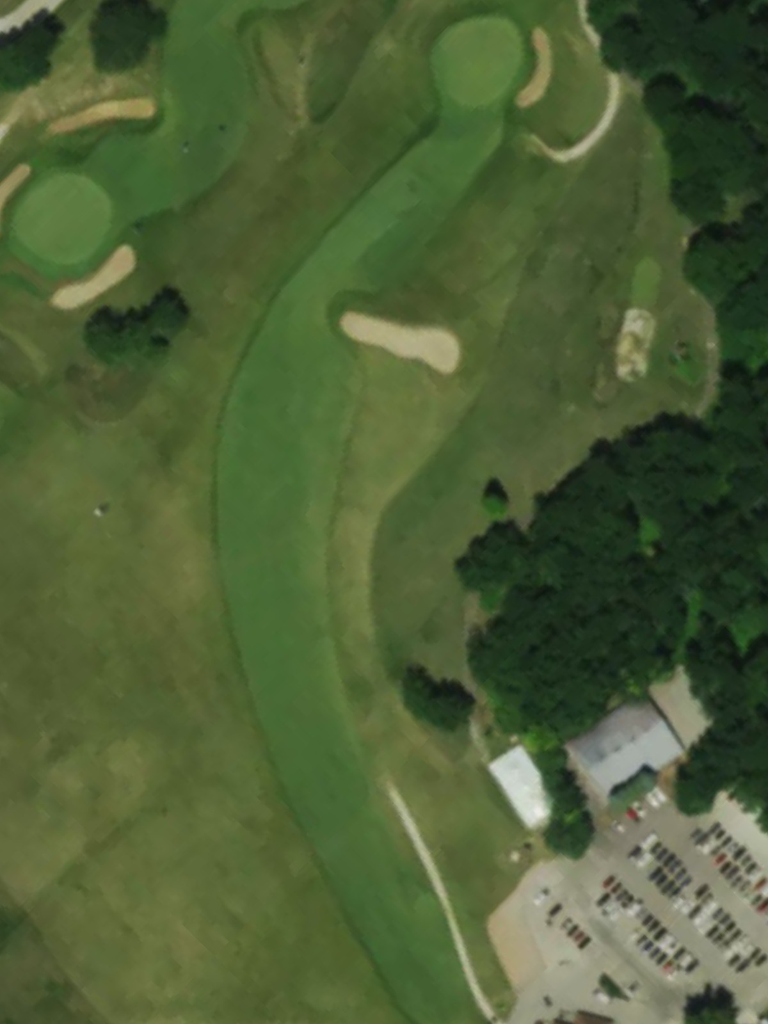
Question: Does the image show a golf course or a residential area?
golf course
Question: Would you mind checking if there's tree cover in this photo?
Yes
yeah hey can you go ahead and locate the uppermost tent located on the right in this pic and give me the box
[489,745,557,830]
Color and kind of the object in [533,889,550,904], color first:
white vehicle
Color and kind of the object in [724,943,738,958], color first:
white car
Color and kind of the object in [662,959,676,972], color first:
red vehicle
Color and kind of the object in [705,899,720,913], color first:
white car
